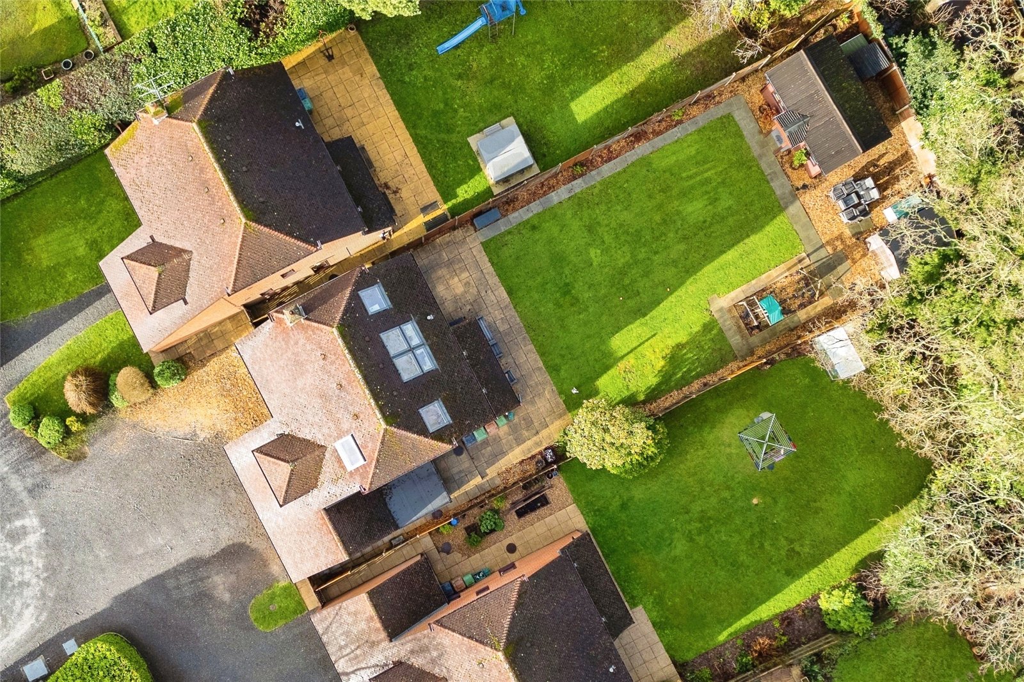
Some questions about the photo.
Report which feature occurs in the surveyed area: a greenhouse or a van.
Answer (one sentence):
Of the two, only a greenhouse appears.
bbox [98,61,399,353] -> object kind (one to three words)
house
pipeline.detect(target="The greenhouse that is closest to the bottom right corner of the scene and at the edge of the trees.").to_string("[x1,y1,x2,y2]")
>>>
[804,326,865,380]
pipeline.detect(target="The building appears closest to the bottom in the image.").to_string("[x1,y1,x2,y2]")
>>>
[309,526,635,682]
